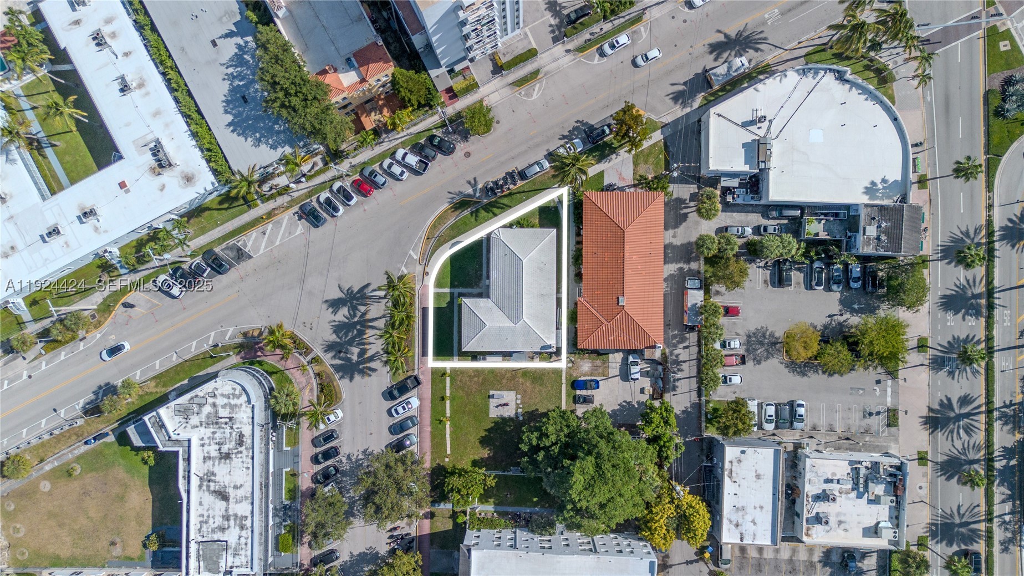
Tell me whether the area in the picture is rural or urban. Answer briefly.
urban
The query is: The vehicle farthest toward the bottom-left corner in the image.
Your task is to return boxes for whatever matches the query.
[84,428,113,448]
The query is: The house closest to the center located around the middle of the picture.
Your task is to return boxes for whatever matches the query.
[462,228,557,352]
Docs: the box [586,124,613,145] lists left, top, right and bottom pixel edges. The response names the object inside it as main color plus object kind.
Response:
black car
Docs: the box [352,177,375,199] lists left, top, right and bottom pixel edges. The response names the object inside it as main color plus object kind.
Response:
red car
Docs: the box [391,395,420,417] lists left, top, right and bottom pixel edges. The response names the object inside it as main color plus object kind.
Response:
white car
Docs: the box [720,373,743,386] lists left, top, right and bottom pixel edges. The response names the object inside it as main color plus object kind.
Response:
white vehicle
